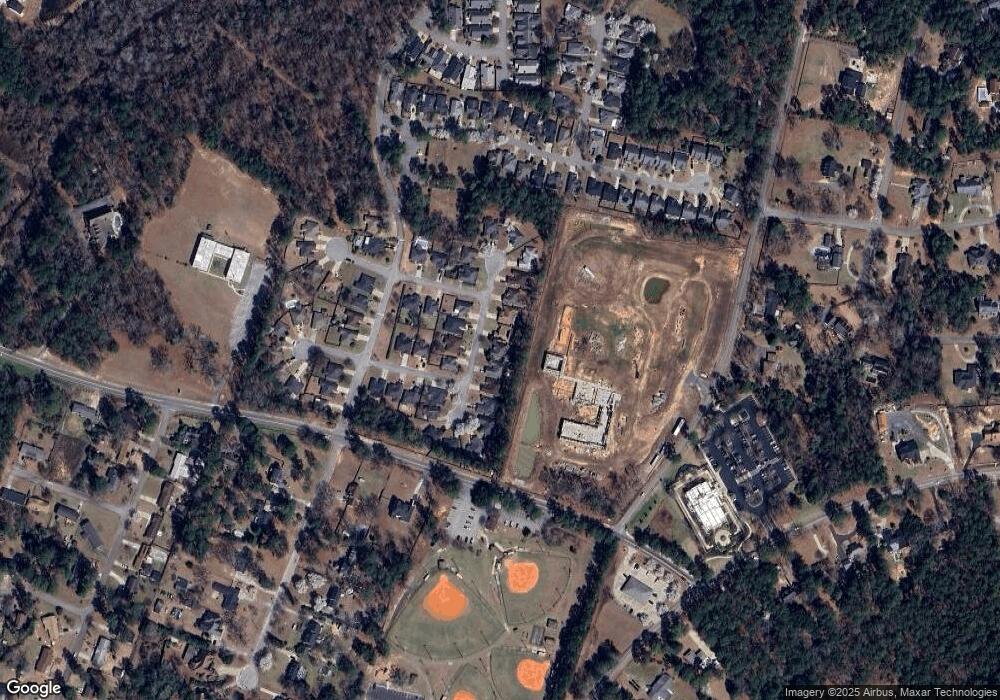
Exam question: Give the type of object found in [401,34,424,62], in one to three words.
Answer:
house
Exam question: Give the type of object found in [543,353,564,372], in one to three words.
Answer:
building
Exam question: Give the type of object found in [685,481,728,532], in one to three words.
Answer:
building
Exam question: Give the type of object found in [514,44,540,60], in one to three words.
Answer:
house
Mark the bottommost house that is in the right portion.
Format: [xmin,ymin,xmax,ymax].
[646,672,674,700]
